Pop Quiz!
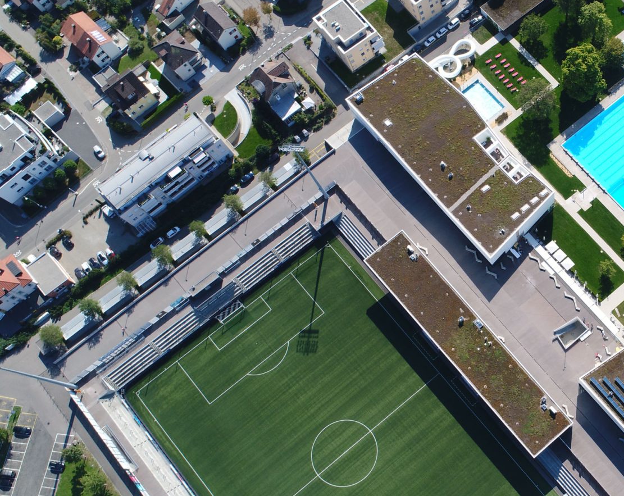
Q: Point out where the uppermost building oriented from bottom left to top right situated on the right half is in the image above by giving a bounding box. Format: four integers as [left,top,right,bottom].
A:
[408,12,451,45]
